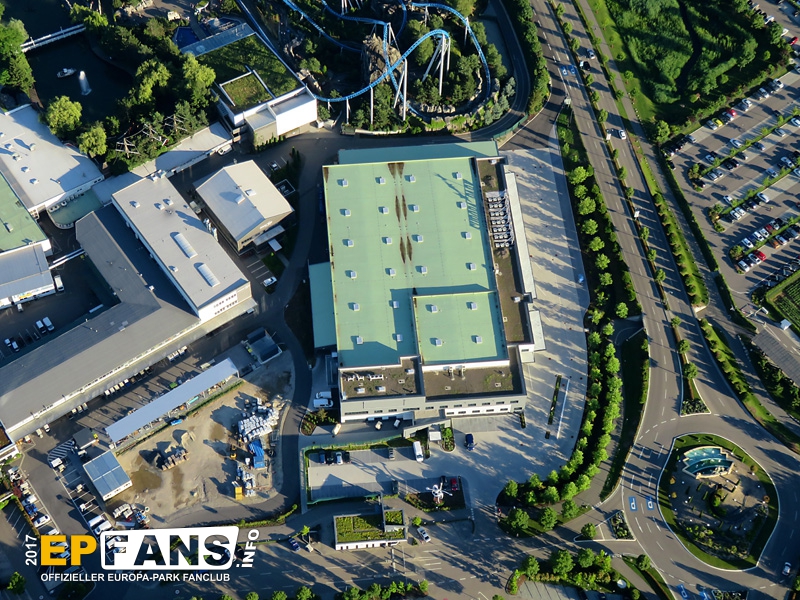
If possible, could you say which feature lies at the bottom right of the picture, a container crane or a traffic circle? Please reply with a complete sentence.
Looking at the bottom right of the picture, you will find a traffic circle.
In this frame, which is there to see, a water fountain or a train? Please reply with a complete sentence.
I can see a water fountain in this picture.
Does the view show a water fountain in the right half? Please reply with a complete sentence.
Yes, you'll find a water fountain in the right half.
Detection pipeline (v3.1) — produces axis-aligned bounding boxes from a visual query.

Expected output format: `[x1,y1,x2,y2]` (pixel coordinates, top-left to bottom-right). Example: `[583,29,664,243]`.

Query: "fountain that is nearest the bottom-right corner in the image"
[682,446,737,480]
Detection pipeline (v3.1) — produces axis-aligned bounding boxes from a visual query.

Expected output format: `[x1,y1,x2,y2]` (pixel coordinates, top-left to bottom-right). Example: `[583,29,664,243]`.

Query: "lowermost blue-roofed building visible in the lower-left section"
[82,450,133,505]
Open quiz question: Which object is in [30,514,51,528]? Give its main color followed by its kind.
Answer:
white vehicle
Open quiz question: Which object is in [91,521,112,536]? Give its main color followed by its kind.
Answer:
white vehicle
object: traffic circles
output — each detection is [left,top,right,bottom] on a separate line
[656,431,780,571]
